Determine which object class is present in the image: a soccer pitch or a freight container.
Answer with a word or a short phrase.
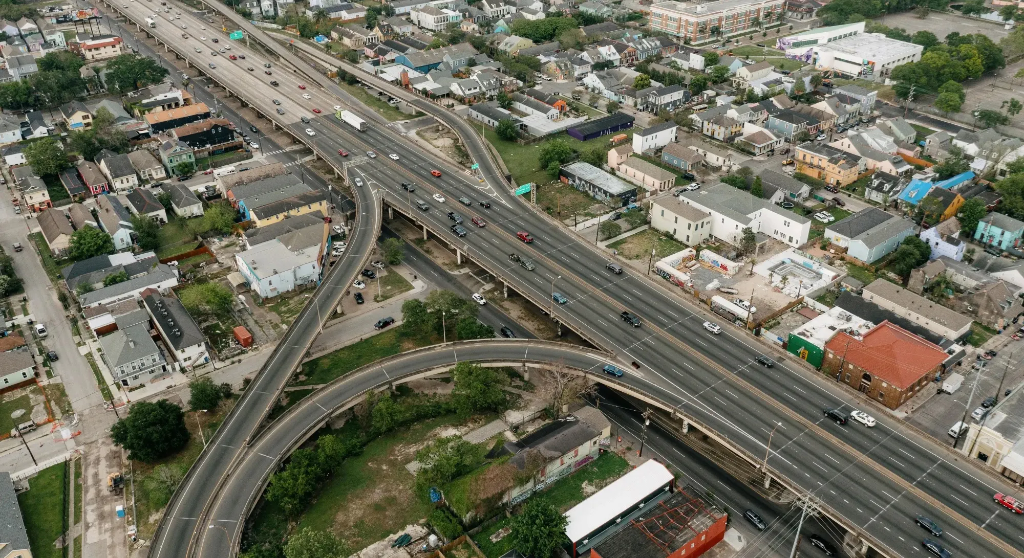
freight container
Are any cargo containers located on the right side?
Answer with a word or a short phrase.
Yes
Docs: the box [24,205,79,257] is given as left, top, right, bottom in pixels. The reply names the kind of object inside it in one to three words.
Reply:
house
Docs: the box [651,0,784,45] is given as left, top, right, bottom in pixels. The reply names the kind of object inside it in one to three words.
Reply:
building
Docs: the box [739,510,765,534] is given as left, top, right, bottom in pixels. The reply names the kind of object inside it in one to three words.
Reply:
car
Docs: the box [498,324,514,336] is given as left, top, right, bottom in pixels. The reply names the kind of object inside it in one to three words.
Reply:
vehicle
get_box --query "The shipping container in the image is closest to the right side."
[699,255,739,280]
